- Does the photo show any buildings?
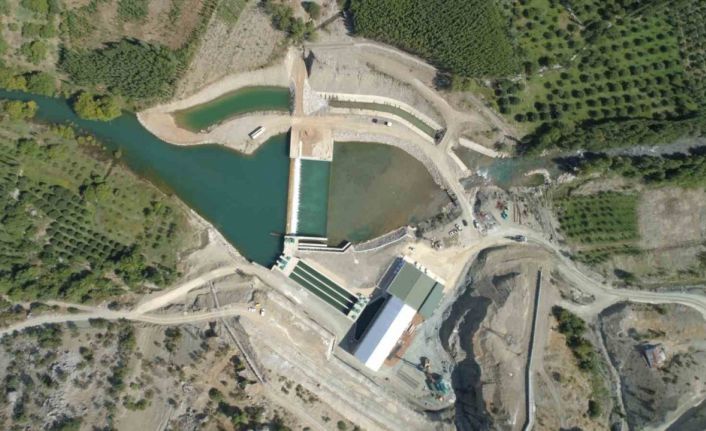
Yes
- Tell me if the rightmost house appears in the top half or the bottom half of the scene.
bottom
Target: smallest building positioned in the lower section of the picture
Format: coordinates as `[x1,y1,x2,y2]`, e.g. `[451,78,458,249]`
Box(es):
[645,343,665,368]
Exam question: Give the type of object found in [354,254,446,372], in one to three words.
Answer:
building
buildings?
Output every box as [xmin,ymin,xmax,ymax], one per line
[645,343,665,368]
[354,254,446,372]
